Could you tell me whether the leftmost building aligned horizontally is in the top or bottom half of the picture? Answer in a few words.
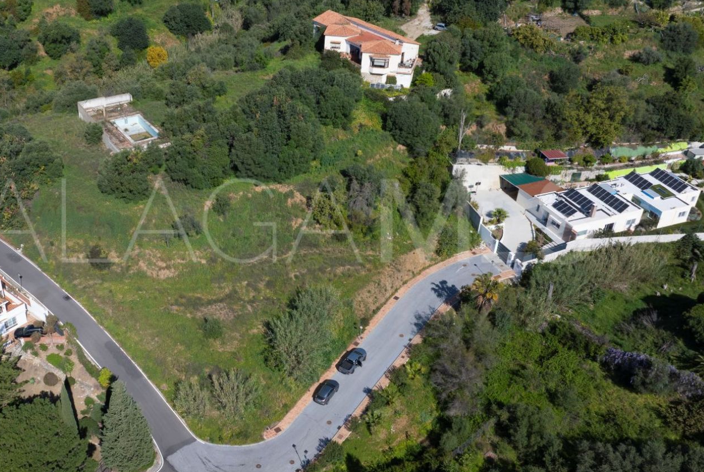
top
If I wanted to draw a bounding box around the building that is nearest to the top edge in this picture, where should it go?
[312,9,426,79]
